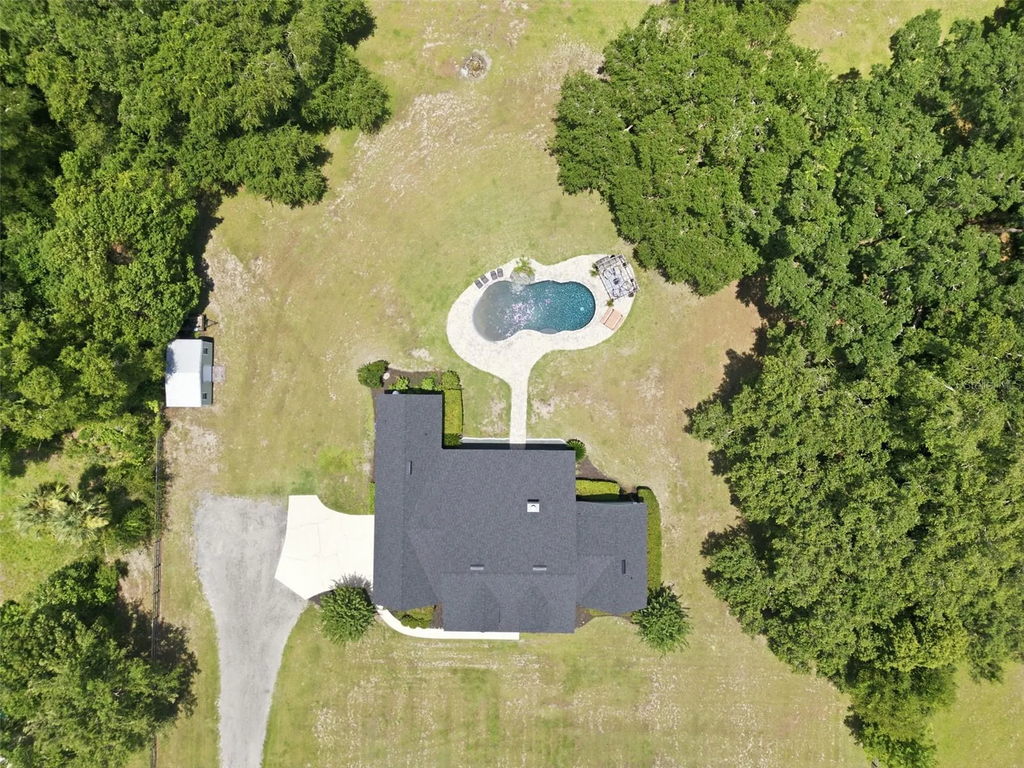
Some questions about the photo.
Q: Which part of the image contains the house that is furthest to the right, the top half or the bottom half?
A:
bottom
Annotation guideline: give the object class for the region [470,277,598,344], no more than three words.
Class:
swimming pool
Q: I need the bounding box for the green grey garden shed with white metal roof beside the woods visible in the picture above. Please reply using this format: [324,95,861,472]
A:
[163,339,212,407]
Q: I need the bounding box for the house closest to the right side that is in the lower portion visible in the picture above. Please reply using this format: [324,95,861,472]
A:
[373,391,648,634]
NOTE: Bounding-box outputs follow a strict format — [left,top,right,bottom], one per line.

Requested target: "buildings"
[373,391,648,634]
[163,339,212,407]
